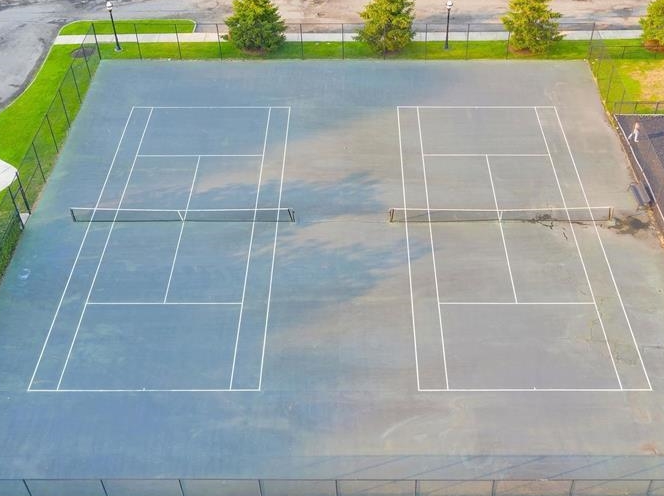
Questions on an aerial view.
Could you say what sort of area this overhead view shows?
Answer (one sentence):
What you see here is a sports ground.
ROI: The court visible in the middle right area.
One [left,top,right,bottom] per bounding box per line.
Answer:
[398,107,651,391]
